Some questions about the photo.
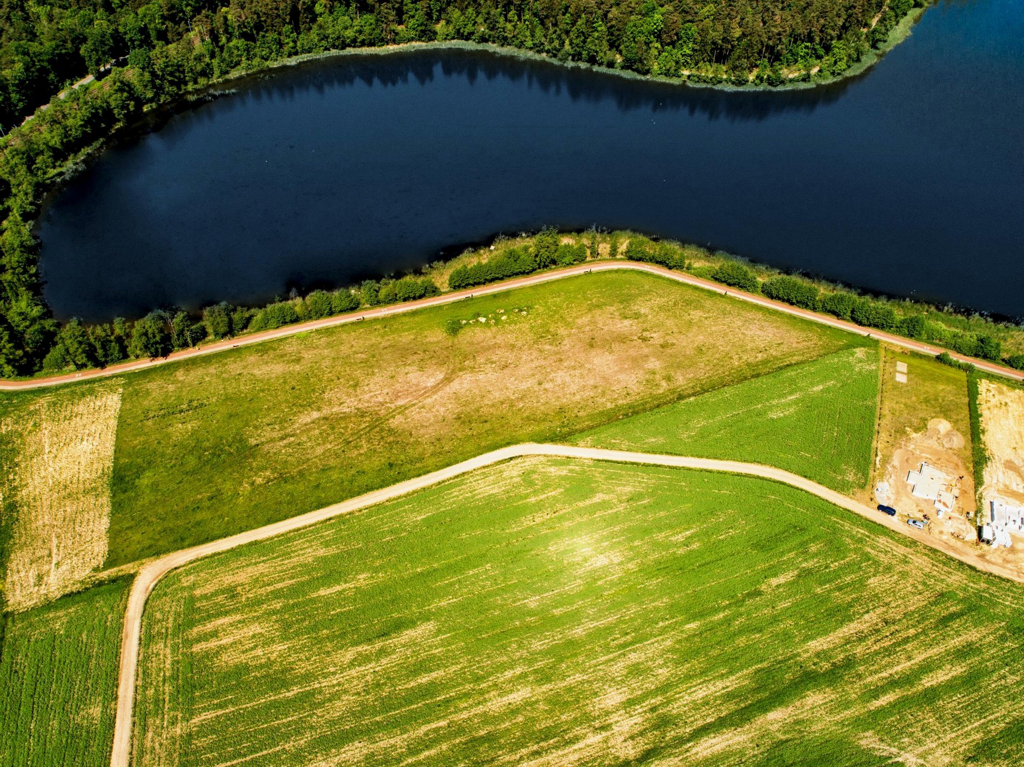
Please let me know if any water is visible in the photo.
Yes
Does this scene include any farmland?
Yes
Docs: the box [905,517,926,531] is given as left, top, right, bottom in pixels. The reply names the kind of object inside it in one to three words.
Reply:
car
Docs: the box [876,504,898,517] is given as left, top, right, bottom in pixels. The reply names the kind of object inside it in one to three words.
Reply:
vehicle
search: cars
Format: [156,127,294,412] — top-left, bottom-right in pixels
[905,517,926,531]
[876,504,898,517]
